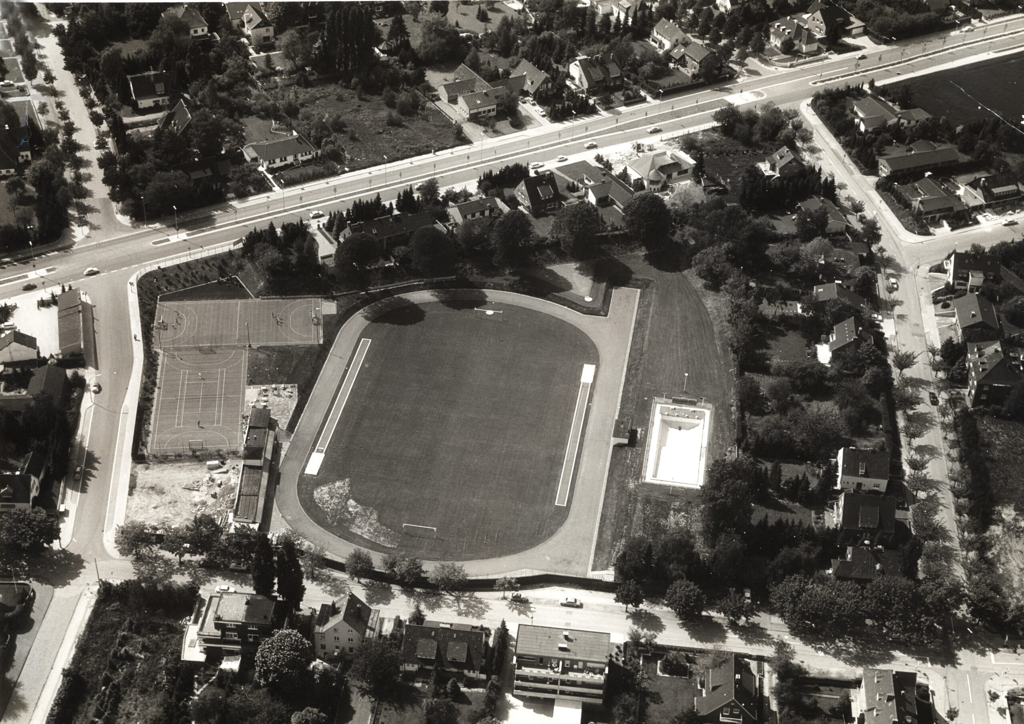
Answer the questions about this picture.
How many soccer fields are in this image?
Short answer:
1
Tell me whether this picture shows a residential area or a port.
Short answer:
residential area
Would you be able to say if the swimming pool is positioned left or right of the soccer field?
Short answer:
to the right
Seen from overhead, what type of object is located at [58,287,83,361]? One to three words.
building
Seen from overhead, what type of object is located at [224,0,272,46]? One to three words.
house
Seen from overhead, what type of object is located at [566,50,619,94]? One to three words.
house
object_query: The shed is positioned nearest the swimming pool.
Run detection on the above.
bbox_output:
[613,419,631,447]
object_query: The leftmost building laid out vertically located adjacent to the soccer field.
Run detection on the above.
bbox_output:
[234,408,278,531]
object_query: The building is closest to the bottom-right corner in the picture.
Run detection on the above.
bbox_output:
[863,667,918,724]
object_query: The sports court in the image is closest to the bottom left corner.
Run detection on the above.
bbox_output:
[151,346,248,452]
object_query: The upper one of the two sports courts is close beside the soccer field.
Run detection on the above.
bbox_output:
[157,298,323,347]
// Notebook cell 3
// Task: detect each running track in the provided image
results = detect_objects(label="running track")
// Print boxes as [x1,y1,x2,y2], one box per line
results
[275,287,640,579]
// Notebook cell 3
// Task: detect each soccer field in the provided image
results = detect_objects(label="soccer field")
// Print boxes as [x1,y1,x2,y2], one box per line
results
[297,300,600,561]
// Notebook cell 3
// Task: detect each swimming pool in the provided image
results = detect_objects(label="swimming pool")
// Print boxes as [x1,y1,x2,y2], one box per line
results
[642,397,712,490]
